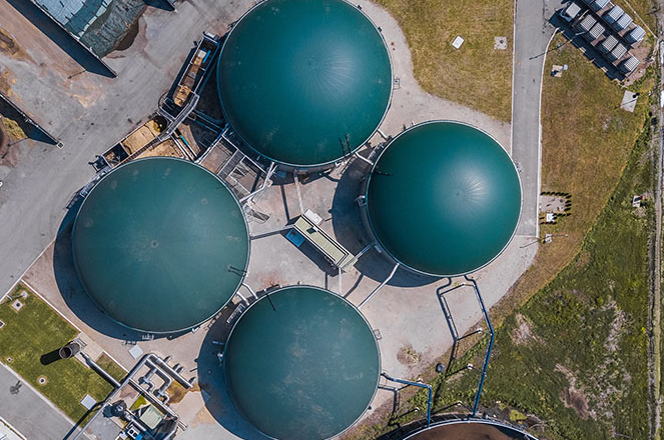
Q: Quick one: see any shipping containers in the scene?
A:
Yes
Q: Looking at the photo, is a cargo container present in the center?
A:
Yes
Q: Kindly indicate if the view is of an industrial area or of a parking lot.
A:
industrial area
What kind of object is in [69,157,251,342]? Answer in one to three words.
storage tank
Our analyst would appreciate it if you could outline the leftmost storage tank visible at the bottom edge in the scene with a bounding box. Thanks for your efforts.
[218,283,386,440]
